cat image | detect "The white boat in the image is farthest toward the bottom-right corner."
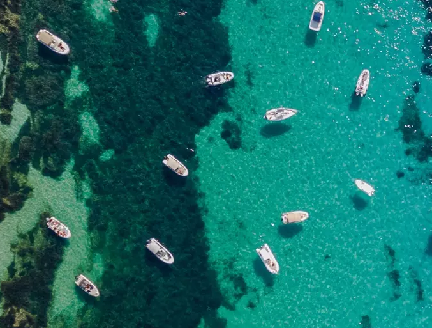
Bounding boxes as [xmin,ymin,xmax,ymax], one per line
[352,177,375,196]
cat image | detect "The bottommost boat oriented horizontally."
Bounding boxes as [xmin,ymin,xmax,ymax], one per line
[280,211,309,224]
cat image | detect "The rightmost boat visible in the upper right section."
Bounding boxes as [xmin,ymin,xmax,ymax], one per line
[354,71,369,98]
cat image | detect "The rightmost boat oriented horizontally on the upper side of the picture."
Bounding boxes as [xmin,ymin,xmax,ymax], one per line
[263,108,298,122]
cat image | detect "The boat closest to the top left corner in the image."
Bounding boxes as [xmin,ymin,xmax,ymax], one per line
[35,31,69,54]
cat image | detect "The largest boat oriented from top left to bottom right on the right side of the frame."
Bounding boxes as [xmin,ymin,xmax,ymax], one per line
[255,242,279,273]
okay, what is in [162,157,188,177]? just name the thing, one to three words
boat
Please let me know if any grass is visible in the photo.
Yes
